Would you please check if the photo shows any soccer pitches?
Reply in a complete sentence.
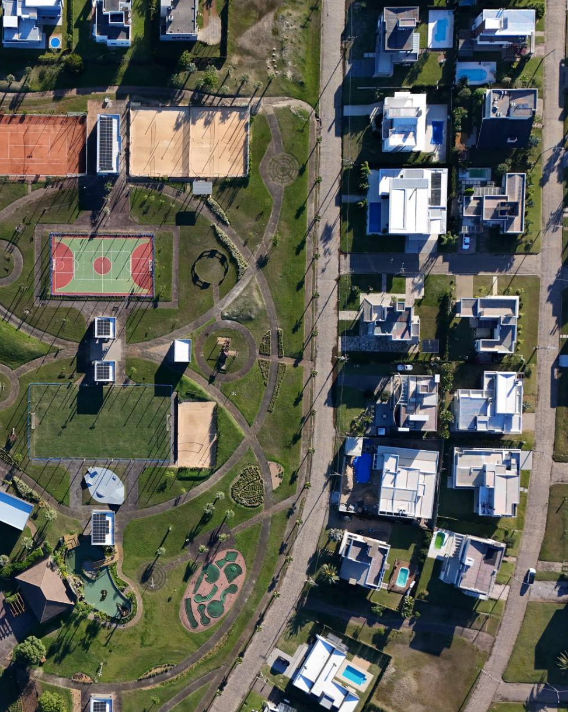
Yes, there is a soccer pitch in the image.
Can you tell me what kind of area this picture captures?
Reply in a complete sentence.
It's a residential area.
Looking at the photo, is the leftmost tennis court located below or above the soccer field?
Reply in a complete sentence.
The leftmost tennis court appears above the soccer field in the picture.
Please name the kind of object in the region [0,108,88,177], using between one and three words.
tennis court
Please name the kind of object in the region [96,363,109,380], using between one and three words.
solar array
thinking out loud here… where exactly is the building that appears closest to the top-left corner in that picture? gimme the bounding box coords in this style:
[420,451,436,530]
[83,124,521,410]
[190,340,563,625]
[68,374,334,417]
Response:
[2,0,62,51]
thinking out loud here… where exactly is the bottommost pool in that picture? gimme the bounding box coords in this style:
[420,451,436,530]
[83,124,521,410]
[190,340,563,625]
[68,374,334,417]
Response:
[340,664,369,687]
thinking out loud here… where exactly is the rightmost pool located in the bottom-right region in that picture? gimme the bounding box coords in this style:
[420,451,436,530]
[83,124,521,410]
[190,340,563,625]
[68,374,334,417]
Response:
[433,532,445,549]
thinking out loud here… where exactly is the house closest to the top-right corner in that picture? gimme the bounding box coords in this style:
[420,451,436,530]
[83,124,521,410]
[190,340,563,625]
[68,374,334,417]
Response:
[467,9,535,61]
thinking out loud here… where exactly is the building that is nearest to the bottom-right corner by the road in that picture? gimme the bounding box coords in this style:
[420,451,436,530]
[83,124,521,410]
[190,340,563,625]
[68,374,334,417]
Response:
[437,532,506,596]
